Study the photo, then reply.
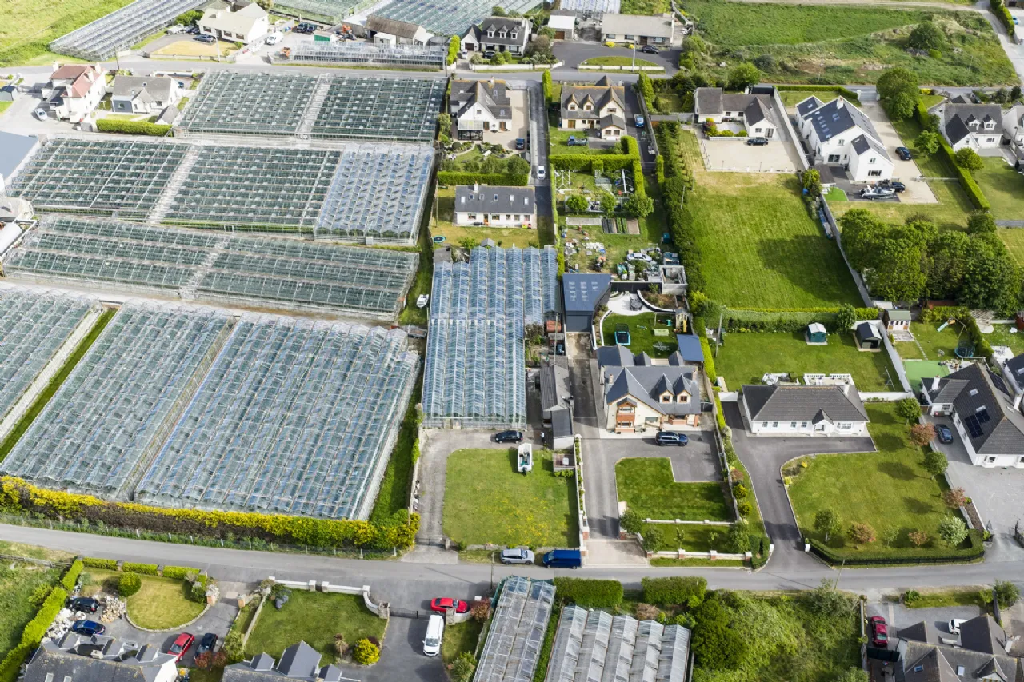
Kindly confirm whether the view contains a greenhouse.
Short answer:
Yes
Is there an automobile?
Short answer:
Yes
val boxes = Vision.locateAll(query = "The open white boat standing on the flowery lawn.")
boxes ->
[516,439,533,471]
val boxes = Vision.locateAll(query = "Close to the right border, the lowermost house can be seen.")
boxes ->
[890,611,1023,682]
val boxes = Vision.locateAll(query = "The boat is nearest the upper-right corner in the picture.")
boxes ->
[859,185,896,198]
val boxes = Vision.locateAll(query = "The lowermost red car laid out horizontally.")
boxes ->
[428,595,469,613]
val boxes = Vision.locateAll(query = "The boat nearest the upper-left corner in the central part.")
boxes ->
[416,291,429,310]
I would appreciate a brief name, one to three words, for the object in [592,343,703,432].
house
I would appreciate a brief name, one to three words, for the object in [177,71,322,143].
greenhouse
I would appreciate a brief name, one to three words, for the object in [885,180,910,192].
vehicle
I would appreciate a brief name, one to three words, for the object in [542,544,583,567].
vehicle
